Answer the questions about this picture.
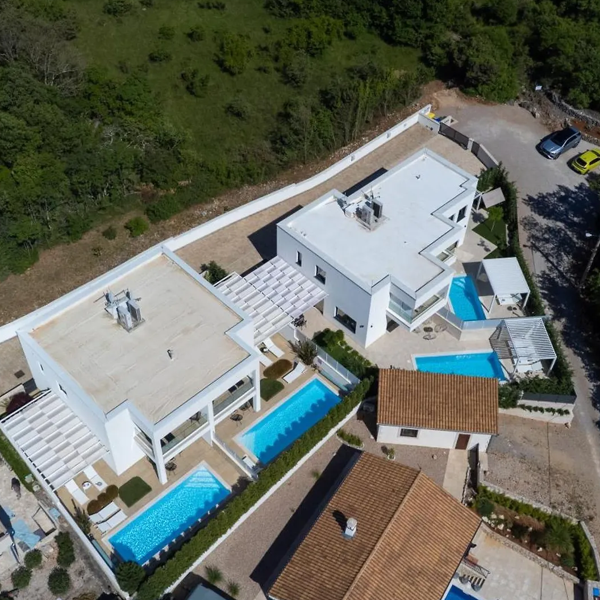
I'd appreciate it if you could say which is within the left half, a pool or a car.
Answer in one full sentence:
What appears within the left half is a pool.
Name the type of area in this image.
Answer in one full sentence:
The picture captures a residential area.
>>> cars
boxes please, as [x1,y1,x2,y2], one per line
[537,120,580,156]
[570,143,600,172]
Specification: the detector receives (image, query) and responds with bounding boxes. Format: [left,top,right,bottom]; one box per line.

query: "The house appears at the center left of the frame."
[17,246,259,482]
